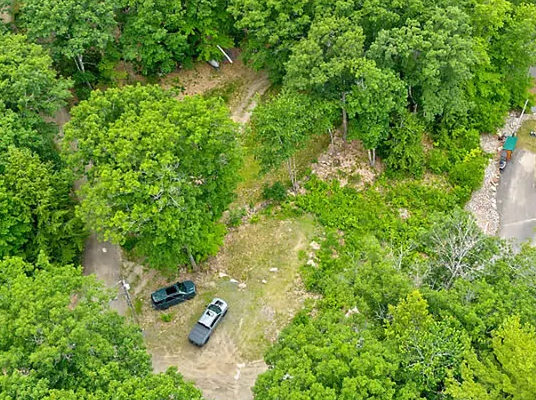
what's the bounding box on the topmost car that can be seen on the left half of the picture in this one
[150,281,197,309]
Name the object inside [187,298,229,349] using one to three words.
truck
